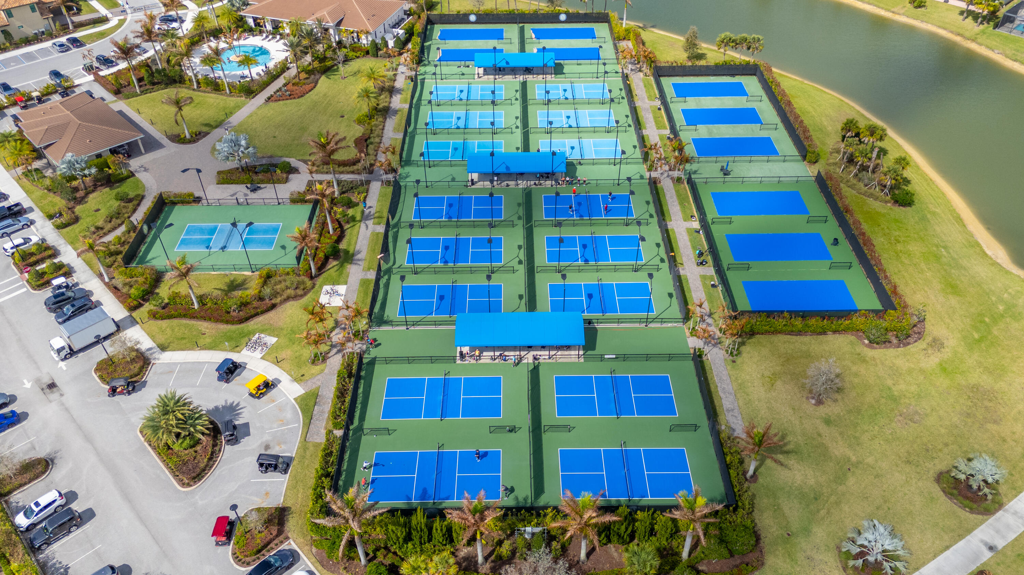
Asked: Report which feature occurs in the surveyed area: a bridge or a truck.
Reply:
truck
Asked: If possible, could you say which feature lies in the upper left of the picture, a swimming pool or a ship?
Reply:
swimming pool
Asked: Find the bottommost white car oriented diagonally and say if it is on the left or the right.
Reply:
left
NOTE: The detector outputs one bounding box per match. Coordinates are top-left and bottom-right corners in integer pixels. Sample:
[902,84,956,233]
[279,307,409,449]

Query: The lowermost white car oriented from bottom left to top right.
[14,489,69,532]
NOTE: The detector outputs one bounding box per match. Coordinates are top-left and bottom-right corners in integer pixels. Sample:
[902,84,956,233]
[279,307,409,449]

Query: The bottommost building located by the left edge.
[15,91,147,174]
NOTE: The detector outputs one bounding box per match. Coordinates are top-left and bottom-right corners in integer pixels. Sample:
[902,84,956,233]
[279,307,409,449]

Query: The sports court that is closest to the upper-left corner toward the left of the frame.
[174,217,283,252]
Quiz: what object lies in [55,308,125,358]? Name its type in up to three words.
truck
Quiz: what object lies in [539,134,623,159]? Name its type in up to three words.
sports court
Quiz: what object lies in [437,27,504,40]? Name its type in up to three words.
sports court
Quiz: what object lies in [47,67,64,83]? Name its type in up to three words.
car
